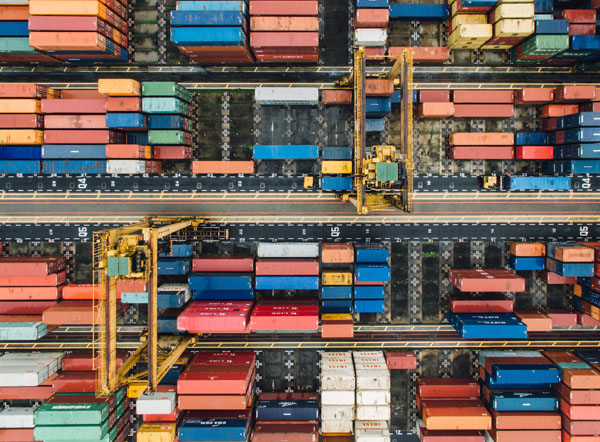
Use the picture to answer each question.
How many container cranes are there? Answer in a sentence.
The picture shows 2 container cranes.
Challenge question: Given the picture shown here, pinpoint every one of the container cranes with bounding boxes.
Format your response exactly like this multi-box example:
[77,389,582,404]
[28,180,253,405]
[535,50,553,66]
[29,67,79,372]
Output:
[91,216,208,389]
[338,46,415,213]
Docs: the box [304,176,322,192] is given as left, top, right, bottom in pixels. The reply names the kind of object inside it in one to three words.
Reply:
vehicle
